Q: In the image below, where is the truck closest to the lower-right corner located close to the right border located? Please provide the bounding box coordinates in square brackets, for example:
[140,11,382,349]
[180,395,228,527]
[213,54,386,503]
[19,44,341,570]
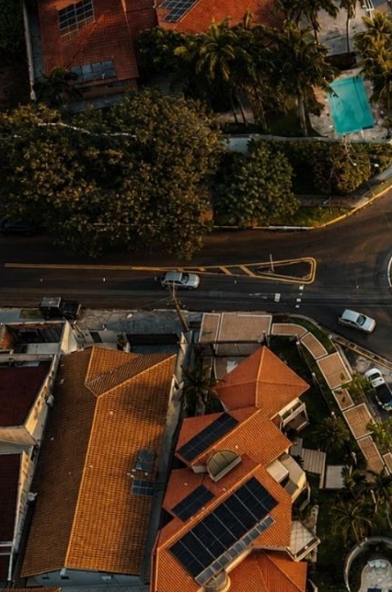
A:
[366,368,392,412]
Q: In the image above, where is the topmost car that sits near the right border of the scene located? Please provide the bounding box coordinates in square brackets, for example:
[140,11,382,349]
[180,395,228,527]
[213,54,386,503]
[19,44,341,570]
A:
[337,305,377,334]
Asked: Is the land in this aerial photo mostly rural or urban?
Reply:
urban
